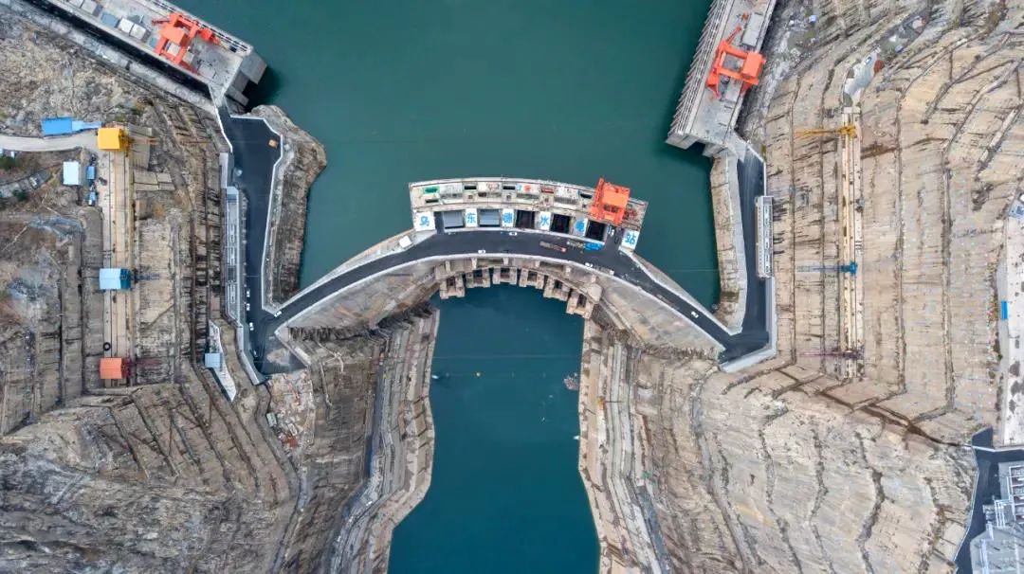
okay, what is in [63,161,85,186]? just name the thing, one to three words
shed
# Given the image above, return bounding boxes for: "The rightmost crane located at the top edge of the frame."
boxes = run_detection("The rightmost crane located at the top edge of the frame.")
[700,26,763,97]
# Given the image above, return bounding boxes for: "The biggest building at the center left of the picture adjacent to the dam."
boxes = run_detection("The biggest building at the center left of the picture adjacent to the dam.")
[226,181,245,327]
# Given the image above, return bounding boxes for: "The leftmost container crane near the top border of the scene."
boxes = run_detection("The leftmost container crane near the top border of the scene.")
[150,13,228,79]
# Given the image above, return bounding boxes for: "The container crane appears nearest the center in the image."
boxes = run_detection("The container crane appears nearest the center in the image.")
[588,178,631,227]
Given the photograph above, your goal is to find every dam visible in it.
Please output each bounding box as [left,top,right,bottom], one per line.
[274,177,732,348]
